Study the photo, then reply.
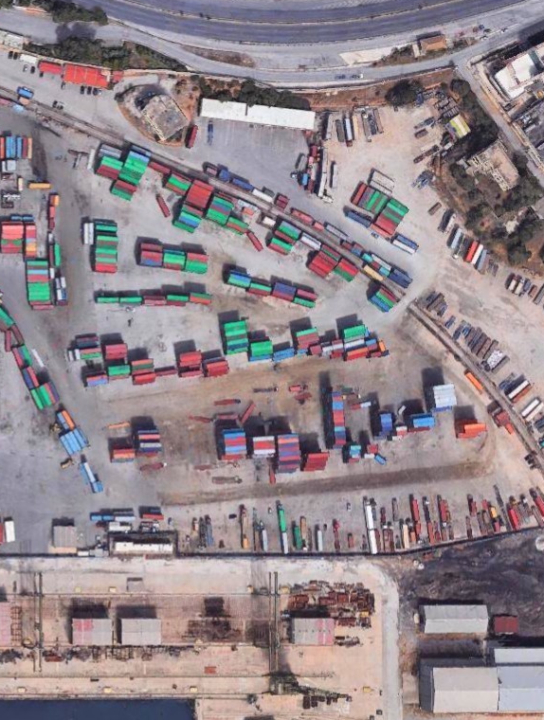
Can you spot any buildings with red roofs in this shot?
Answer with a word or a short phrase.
Yes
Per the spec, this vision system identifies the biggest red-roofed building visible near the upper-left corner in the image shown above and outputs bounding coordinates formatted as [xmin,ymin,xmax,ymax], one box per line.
[63,61,110,90]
